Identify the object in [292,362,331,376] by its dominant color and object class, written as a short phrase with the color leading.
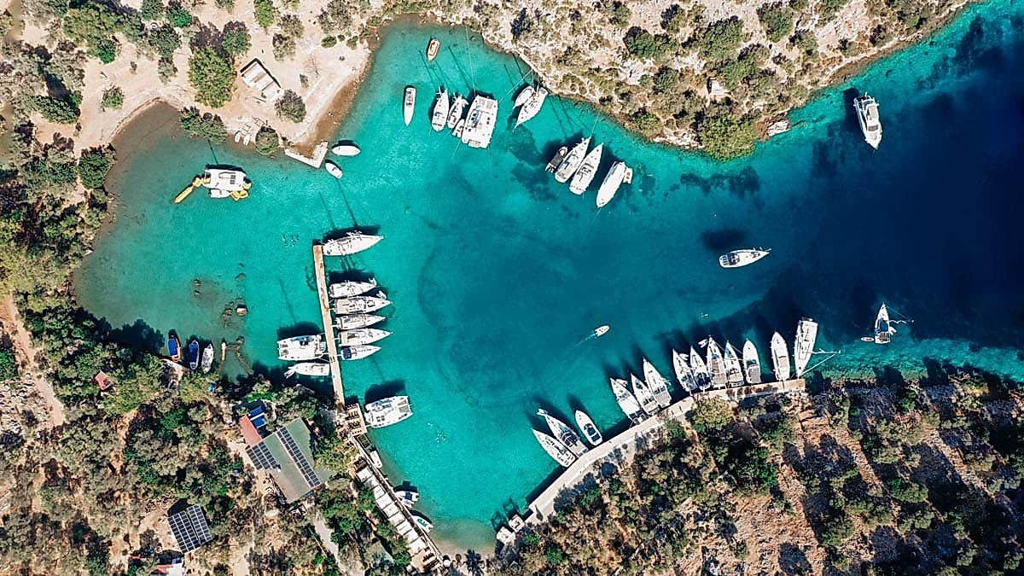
white boat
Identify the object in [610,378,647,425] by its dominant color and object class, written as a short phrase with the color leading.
white boat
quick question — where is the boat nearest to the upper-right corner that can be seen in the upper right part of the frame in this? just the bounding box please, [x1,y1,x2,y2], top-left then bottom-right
[855,93,879,149]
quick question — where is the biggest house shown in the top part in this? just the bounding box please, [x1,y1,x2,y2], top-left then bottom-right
[241,61,284,102]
